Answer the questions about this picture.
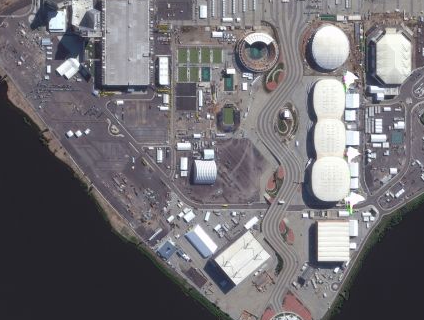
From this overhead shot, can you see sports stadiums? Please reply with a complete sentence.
Yes, there's a sports stadium down there.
